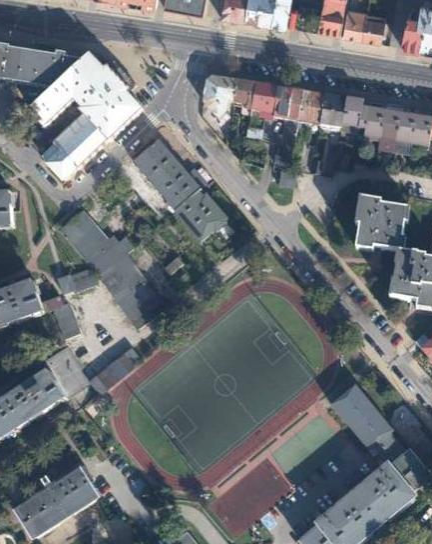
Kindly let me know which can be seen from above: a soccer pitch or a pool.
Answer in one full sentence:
There is a soccer pitch in the scene.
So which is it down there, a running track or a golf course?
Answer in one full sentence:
The one in the frame is a running track.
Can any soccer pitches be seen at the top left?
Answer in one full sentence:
No, no soccer pitch can be made out at the top left.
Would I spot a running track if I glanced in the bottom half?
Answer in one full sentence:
Yes, a running track appears in the bottom half.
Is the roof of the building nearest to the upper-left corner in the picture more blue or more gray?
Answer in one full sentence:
The roof of the building nearest to the upper-left corner is gray.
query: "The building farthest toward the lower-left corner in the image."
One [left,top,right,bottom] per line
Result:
[12,465,99,540]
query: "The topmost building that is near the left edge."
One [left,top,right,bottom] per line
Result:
[0,43,69,89]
